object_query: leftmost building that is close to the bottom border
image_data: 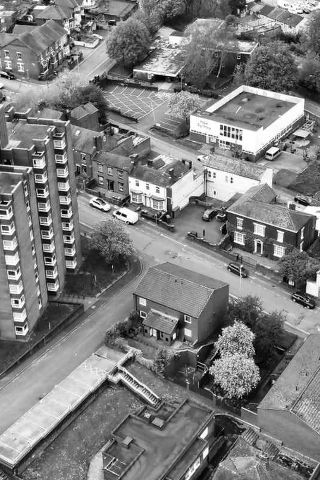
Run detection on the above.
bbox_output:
[103,400,215,480]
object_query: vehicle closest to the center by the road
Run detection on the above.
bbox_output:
[114,209,138,224]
